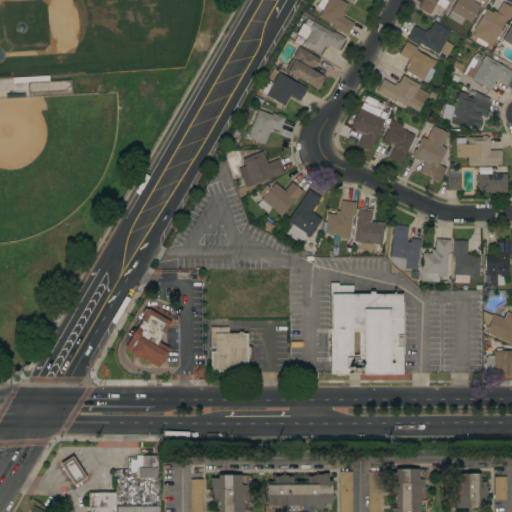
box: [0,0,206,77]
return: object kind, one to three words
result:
baseball field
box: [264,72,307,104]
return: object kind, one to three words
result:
house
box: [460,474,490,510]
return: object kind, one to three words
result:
building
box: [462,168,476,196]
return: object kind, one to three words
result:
swimming pool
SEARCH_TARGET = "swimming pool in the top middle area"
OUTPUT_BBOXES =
[277,40,300,66]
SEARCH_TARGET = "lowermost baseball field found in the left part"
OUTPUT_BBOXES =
[0,91,118,244]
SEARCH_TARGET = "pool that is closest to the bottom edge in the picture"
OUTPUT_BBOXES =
[485,290,508,314]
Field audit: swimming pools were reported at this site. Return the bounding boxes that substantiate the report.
[277,40,300,66]
[485,290,508,314]
[462,168,476,196]
[496,42,512,66]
